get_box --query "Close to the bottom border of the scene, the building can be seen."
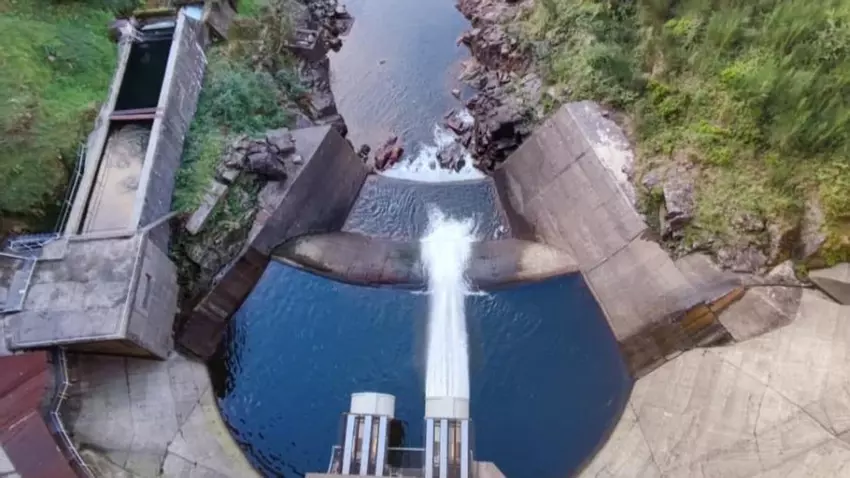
[0,352,85,478]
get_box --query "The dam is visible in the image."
[268,234,578,288]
